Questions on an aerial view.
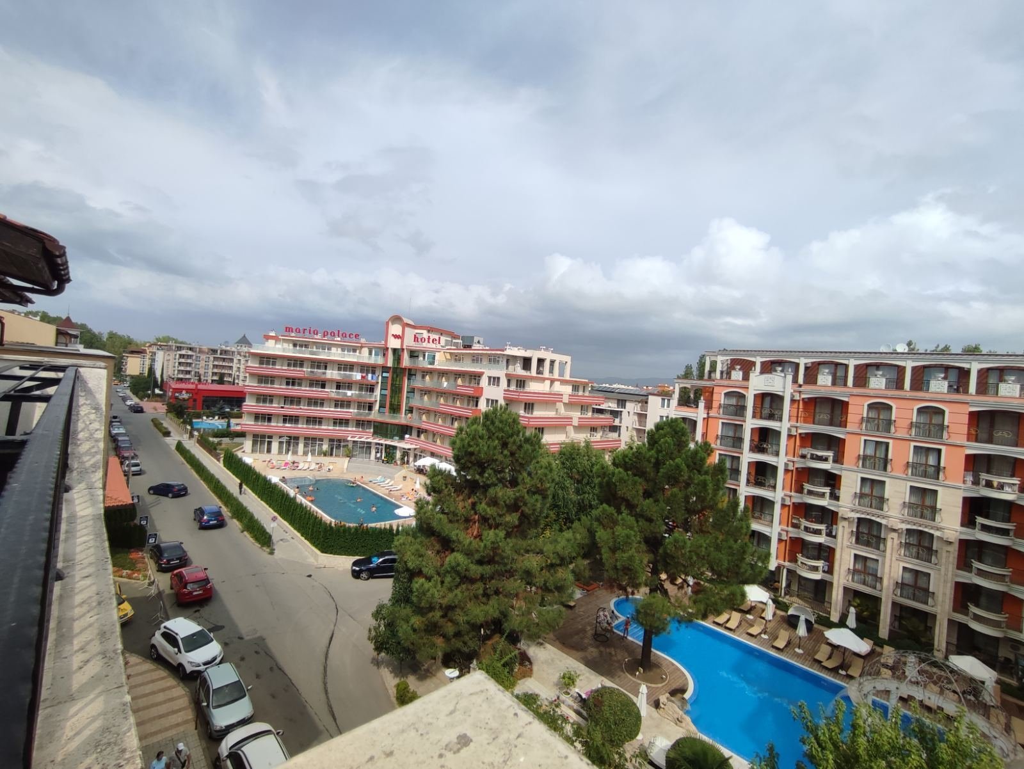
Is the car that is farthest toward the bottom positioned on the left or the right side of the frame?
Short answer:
left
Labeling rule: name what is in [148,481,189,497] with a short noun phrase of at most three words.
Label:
car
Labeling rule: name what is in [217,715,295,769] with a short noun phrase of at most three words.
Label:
car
